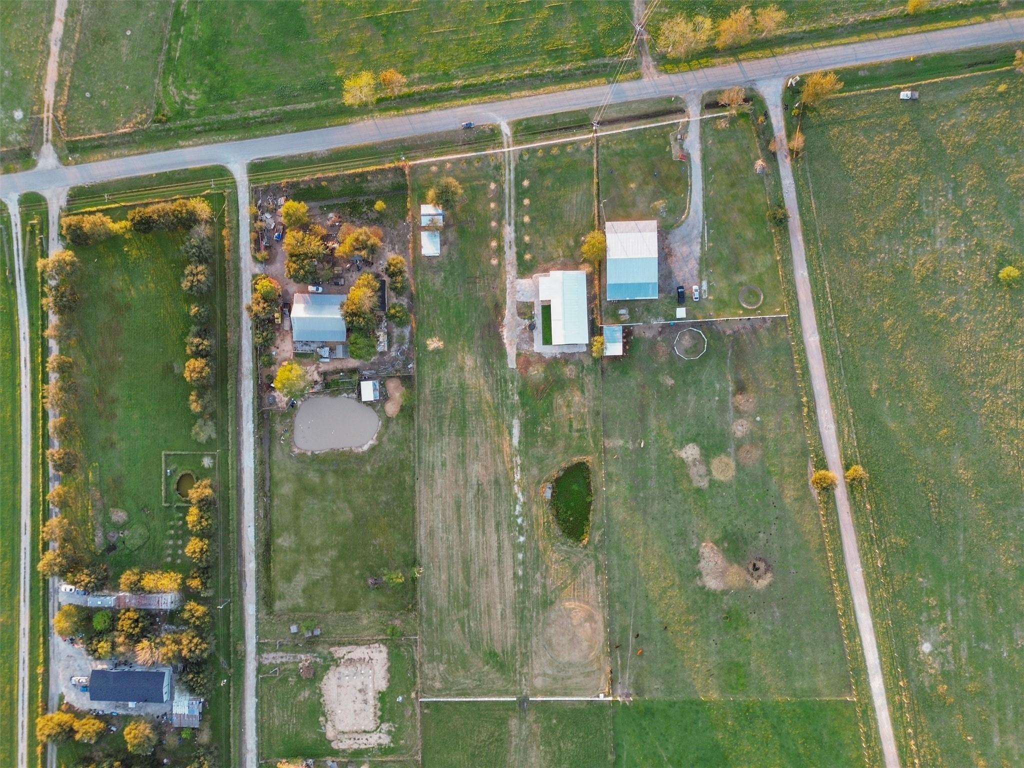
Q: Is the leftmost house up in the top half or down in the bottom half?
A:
bottom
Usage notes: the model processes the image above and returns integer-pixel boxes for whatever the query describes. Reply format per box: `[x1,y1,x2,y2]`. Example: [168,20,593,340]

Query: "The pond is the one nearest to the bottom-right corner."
[553,463,592,540]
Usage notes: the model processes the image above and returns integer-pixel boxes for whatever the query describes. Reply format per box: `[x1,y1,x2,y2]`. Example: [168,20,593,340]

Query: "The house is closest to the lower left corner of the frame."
[86,668,168,702]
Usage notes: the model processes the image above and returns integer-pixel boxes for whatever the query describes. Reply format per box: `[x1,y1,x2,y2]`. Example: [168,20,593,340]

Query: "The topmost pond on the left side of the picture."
[294,397,379,451]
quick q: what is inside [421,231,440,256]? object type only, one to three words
shed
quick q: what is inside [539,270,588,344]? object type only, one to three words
house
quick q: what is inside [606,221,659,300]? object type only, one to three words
barn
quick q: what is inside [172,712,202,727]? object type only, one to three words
shed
